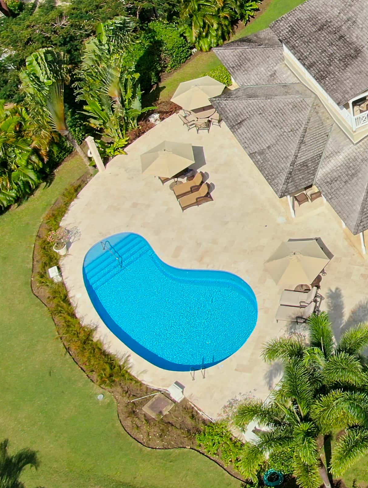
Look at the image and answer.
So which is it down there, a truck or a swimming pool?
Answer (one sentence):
I can see a swimming pool in this picture.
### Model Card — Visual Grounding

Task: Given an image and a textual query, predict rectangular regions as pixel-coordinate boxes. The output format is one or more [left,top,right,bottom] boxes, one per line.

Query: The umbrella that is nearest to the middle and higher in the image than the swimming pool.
[143,146,201,191]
